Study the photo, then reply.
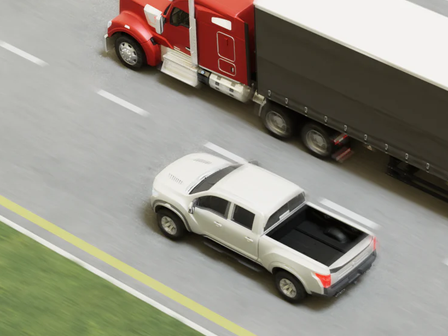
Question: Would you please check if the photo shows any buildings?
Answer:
No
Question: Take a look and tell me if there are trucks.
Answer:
Yes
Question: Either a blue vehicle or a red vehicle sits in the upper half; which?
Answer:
red vehicle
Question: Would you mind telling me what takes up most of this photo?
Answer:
paved ground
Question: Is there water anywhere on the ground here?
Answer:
No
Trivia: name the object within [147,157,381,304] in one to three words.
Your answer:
truck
